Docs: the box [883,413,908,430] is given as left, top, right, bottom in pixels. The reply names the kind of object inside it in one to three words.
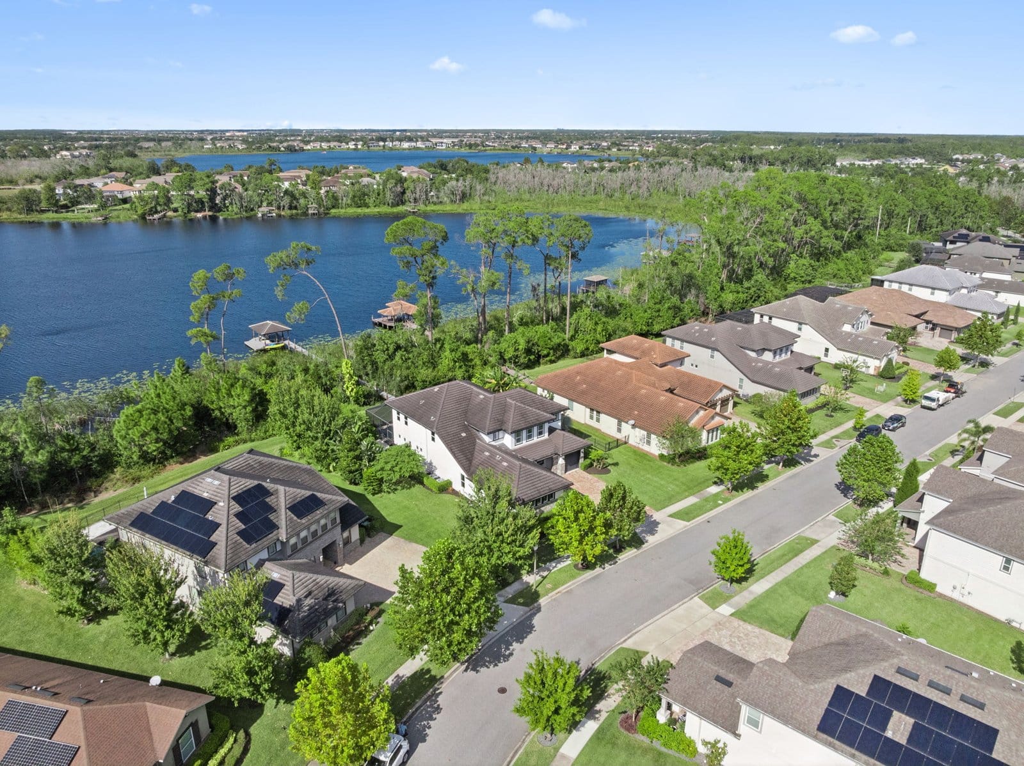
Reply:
car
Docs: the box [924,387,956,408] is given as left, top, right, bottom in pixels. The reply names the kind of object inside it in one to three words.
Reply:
truck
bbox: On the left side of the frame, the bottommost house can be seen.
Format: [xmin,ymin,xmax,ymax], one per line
[0,652,215,766]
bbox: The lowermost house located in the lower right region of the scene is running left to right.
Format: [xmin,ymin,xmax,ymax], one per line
[658,599,1024,766]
